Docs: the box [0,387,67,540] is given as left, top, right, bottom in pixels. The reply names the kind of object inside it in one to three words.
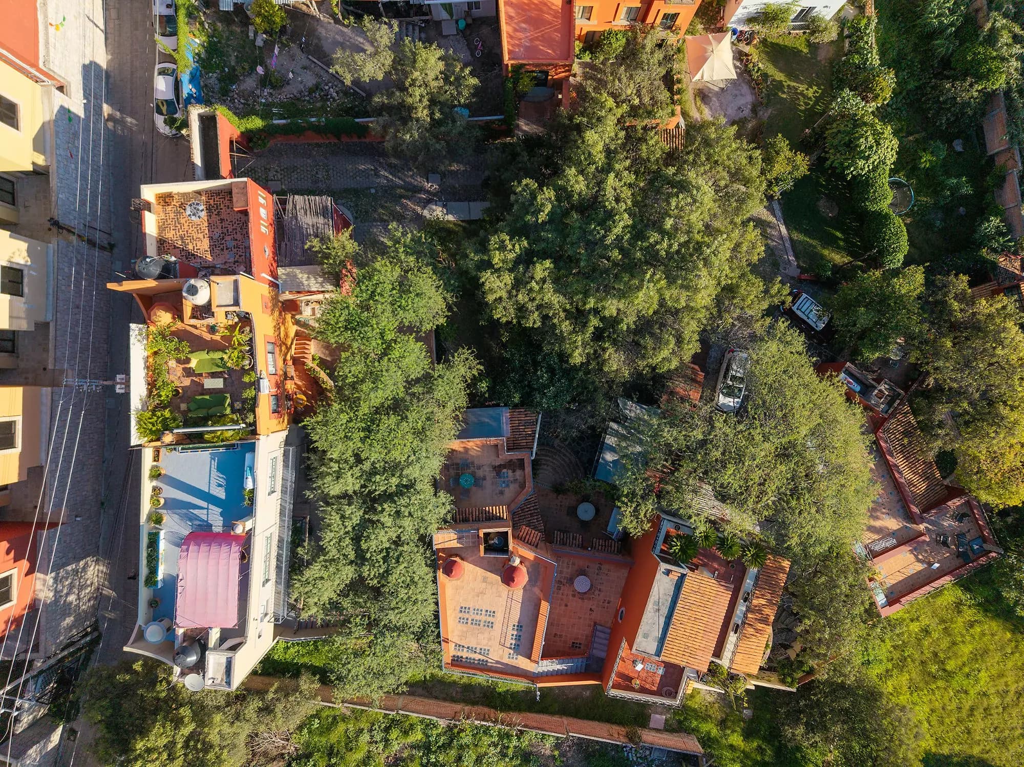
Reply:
house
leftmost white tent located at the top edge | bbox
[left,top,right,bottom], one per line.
[681,31,737,99]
